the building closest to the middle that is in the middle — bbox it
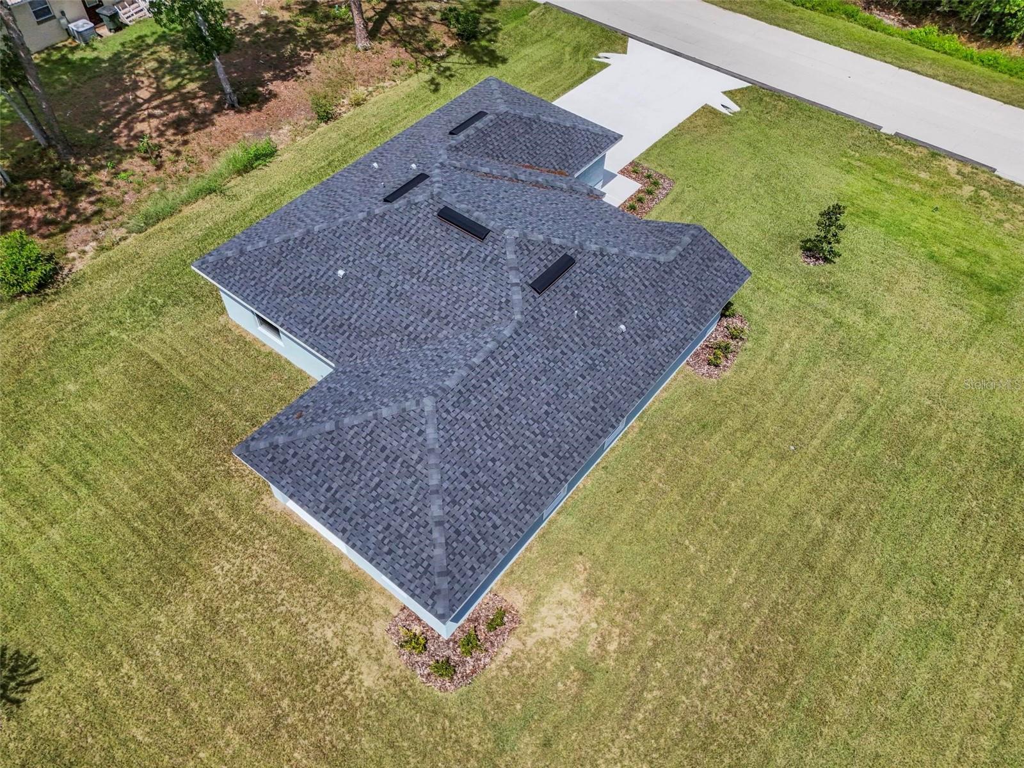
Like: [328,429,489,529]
[192,76,751,639]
